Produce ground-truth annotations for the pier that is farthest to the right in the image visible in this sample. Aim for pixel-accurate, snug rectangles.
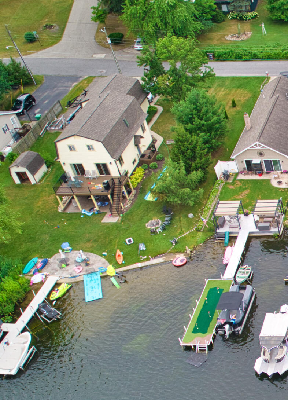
[219,233,248,281]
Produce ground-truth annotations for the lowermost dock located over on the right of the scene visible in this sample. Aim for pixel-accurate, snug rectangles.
[178,276,234,351]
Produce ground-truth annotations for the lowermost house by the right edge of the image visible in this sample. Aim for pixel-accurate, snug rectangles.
[231,73,288,172]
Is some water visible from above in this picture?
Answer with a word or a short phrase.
Yes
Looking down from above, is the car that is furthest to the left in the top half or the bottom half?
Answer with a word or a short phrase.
top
